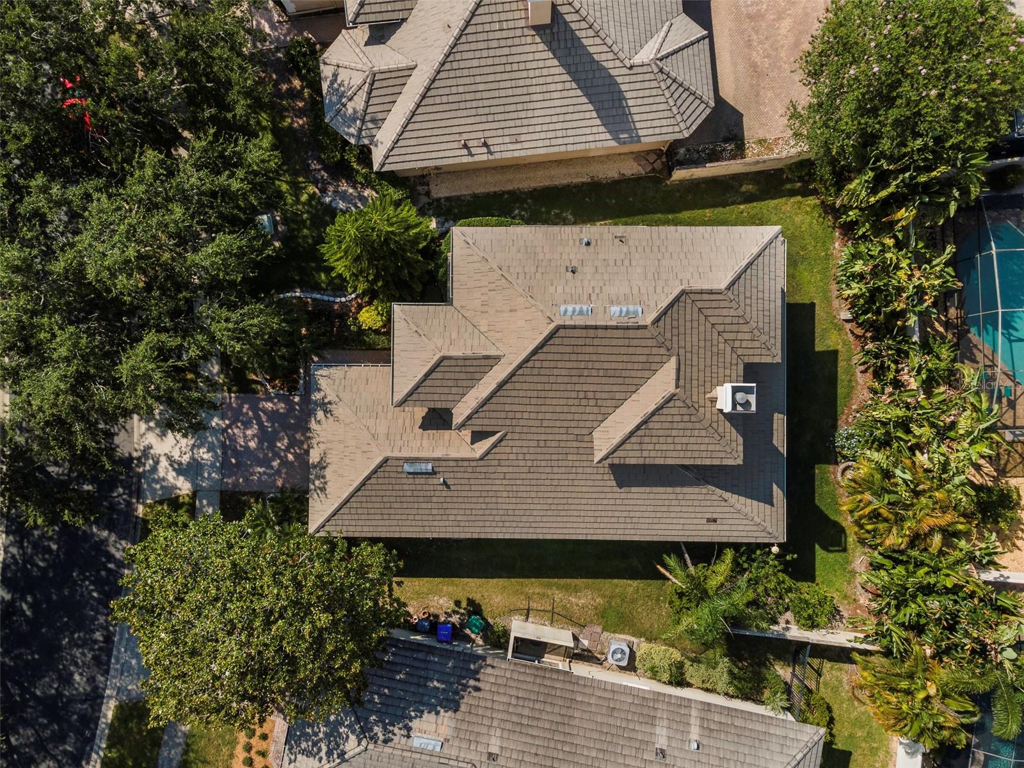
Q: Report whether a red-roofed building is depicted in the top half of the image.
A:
No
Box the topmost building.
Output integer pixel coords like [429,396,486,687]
[276,0,716,176]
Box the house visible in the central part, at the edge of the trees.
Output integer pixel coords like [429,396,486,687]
[307,223,788,550]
